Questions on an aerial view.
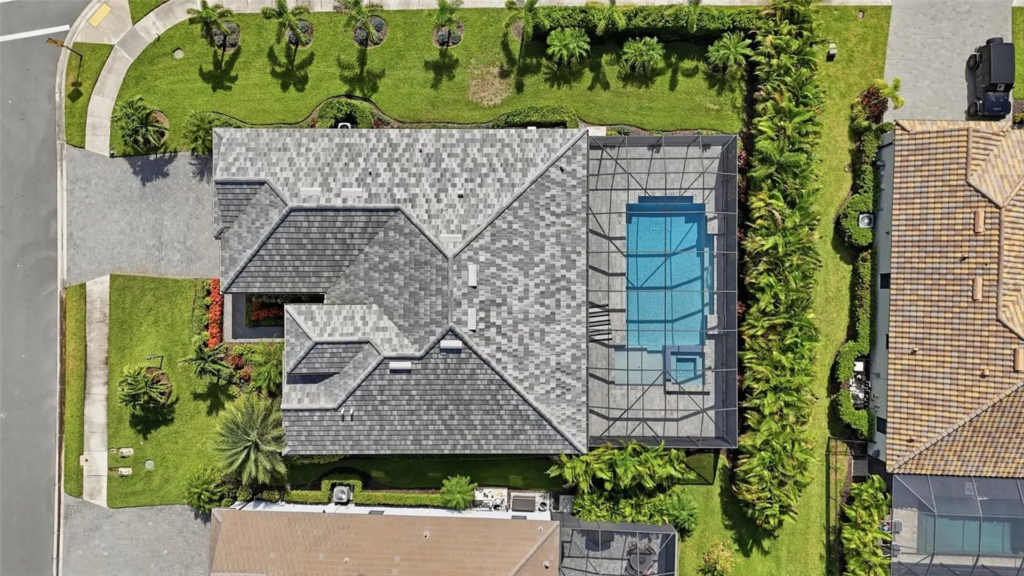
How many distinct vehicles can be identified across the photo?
1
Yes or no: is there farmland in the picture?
No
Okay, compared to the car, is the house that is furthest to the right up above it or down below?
below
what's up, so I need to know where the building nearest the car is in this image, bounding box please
[868,120,1024,478]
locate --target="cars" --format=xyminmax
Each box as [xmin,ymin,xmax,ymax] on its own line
[968,45,1014,121]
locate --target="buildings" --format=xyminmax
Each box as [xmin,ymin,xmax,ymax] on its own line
[868,120,1024,478]
[209,500,561,576]
[211,126,589,456]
